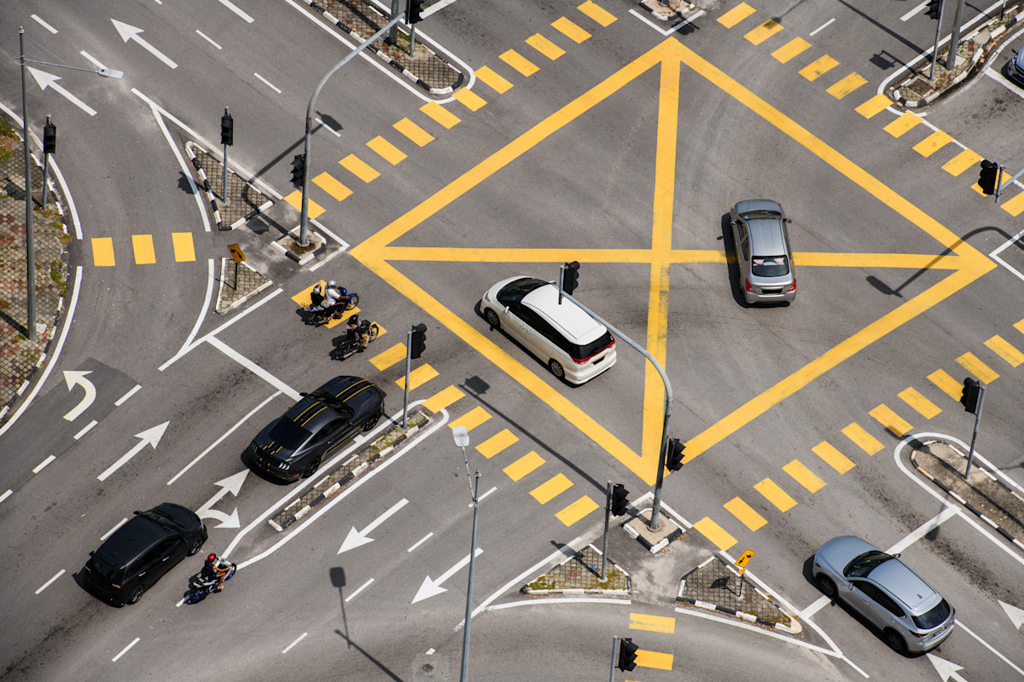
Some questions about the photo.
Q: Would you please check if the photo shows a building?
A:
No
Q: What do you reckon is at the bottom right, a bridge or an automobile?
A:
automobile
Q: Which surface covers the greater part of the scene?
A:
paved ground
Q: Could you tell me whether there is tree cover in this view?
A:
No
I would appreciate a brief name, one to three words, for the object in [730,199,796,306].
car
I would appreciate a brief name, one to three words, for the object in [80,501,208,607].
car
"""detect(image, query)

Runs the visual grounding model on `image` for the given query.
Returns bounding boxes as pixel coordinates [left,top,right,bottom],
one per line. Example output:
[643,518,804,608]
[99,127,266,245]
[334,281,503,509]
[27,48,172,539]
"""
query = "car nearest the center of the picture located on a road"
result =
[479,272,619,385]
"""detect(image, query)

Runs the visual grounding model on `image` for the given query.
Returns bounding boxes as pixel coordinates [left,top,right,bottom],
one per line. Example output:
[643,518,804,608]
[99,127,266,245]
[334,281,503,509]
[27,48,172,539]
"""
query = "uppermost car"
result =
[1002,36,1024,83]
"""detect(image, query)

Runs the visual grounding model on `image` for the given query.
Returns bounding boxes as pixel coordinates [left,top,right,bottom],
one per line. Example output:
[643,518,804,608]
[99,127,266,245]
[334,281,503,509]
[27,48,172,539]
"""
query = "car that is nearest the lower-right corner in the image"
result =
[816,539,960,656]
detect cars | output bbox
[80,501,208,607]
[816,539,960,656]
[479,272,619,385]
[730,199,796,306]
[1002,36,1024,83]
[246,374,387,485]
